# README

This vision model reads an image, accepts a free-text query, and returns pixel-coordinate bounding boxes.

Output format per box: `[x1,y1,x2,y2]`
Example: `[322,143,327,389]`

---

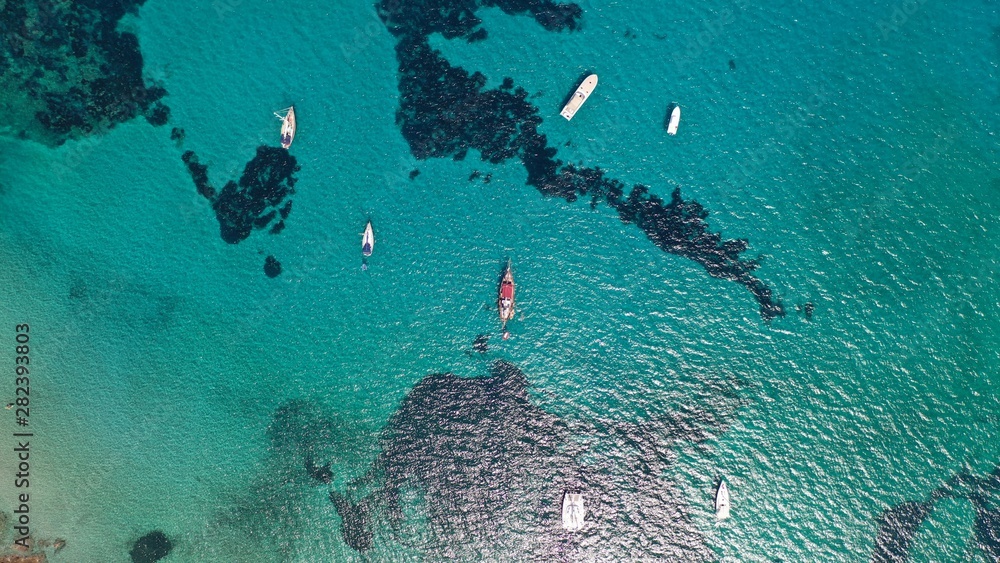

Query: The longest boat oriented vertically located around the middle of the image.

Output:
[498,260,515,330]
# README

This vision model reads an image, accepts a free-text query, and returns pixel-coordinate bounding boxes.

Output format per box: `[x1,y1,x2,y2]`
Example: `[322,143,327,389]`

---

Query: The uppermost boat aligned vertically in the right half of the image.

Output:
[668,105,681,137]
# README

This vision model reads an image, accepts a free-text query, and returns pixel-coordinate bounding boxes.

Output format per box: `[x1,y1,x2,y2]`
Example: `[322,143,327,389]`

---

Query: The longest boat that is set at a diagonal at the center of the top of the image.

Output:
[561,73,599,121]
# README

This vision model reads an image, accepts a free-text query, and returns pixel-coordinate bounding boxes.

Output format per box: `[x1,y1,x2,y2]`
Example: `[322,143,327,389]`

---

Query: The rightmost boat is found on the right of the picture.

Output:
[716,481,734,518]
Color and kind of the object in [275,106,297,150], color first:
white boat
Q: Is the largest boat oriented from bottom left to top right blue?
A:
No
